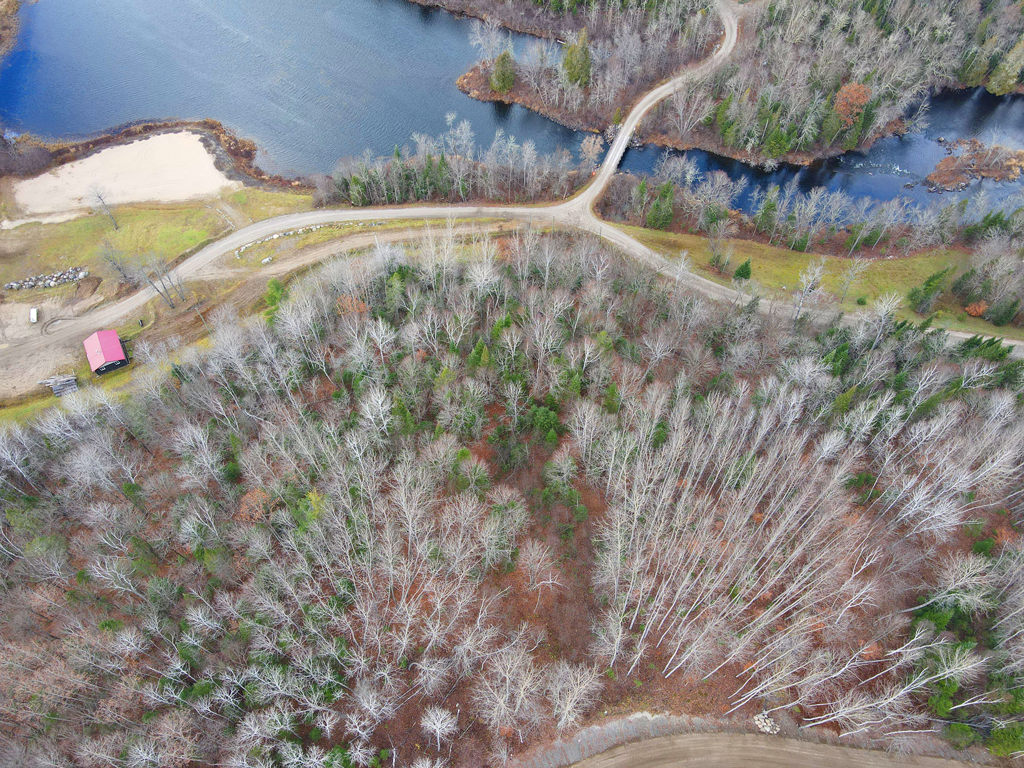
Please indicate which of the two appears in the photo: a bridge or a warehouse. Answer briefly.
bridge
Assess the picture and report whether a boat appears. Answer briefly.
No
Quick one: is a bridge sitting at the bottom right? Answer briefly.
No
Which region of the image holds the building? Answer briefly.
left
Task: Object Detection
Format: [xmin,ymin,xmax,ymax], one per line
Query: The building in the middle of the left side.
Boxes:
[85,321,140,375]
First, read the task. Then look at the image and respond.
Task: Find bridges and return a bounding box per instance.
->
[595,126,637,177]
